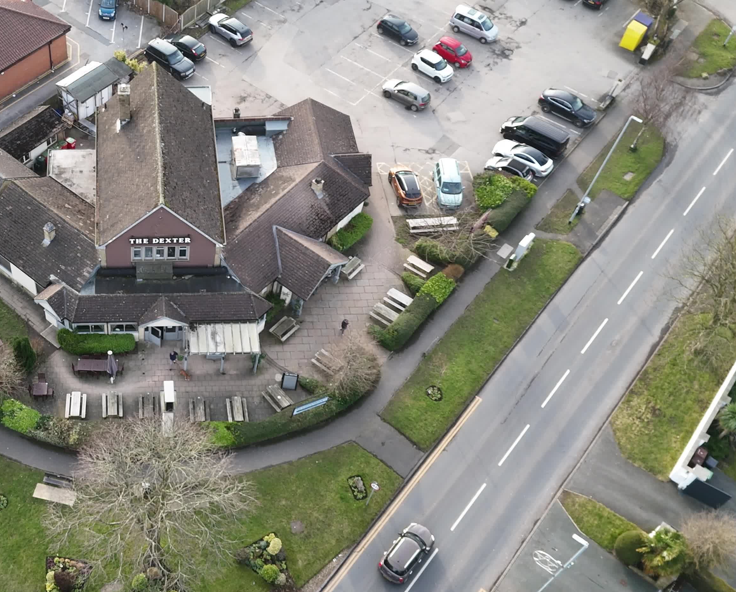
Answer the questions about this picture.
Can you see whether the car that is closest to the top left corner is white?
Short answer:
No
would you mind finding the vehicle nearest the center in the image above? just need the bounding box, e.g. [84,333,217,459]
[386,164,423,208]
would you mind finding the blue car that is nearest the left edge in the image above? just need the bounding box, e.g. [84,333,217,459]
[98,0,119,21]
